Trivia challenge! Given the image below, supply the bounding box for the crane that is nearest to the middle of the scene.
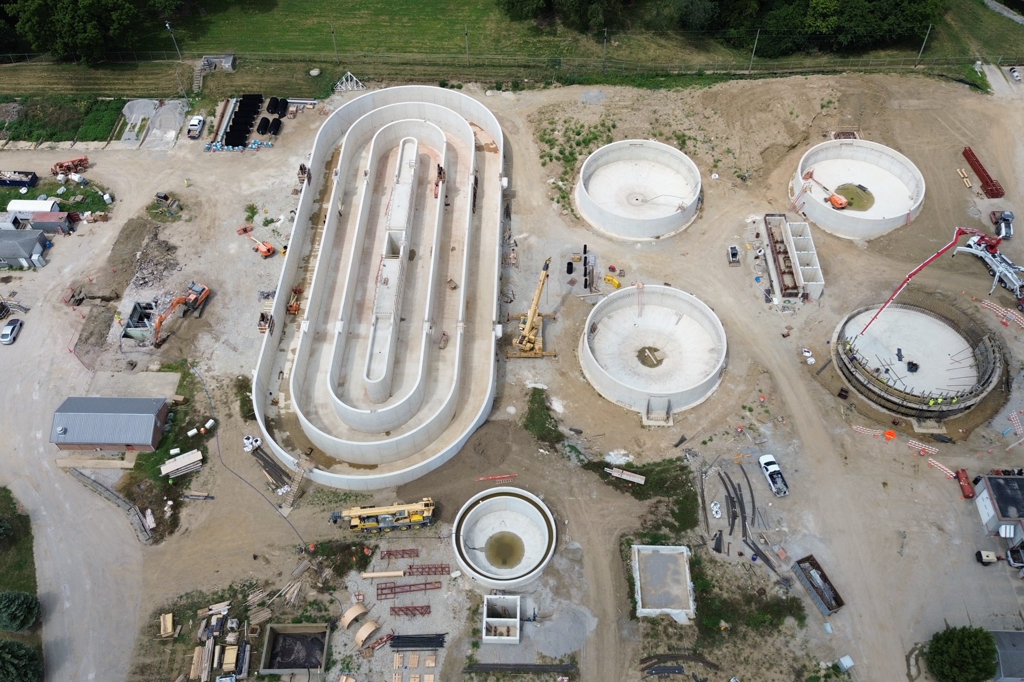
[503,255,560,362]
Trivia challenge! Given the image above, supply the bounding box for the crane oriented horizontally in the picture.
[324,496,436,533]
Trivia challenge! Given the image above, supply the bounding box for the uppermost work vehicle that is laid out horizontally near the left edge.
[42,155,84,179]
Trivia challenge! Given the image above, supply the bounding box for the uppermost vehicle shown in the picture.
[187,111,203,135]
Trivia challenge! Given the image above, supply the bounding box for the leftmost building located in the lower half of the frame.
[50,395,172,456]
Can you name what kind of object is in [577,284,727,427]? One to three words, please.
storage tank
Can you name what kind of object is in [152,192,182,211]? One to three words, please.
work vehicle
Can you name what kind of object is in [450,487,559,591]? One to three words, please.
storage tank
